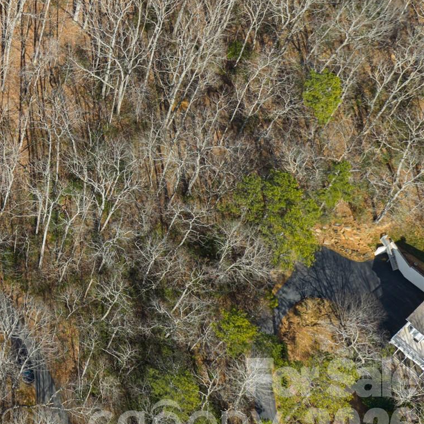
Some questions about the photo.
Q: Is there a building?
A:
Yes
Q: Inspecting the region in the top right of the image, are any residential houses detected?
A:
No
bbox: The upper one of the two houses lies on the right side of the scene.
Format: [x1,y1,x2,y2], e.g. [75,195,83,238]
[366,235,424,298]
